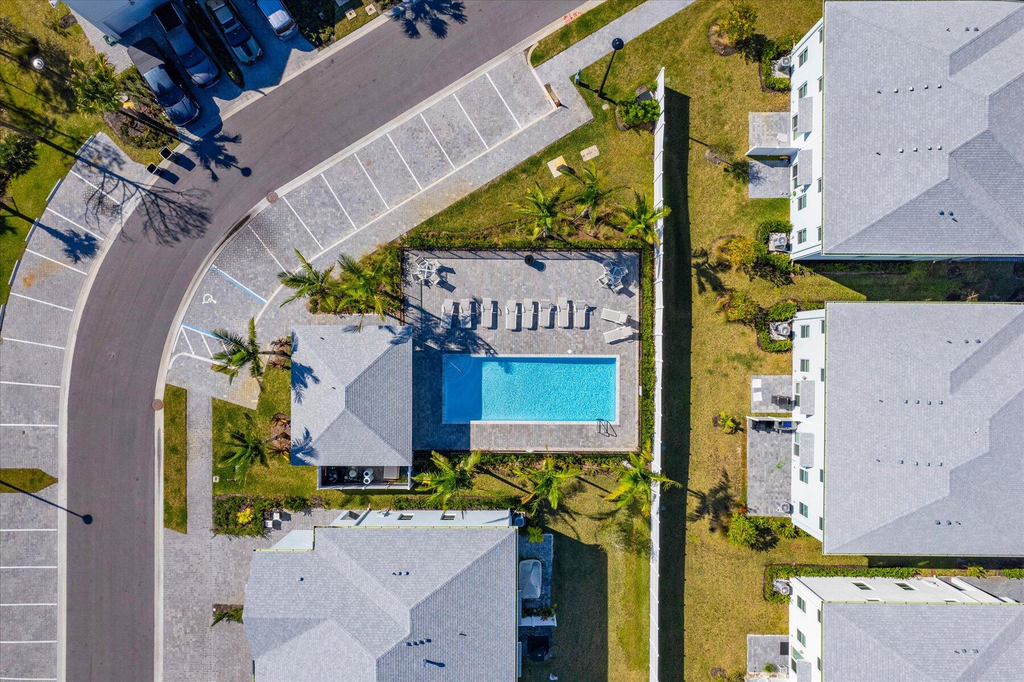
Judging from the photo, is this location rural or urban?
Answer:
urban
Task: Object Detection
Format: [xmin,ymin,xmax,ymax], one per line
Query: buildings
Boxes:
[791,0,1024,260]
[240,508,523,682]
[789,575,1024,682]
[792,301,1024,557]
[59,0,184,39]
[290,324,413,468]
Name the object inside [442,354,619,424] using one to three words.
swimming pool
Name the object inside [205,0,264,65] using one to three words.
car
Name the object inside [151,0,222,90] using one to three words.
truck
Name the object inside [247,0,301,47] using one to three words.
car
